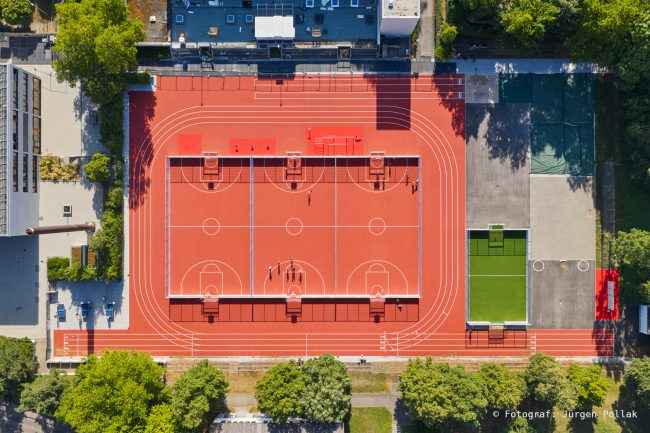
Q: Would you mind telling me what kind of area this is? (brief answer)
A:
sports ground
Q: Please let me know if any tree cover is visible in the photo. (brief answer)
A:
Yes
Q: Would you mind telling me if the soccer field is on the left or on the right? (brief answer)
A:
right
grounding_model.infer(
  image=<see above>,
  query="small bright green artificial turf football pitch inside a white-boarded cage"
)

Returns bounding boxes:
[468,230,526,321]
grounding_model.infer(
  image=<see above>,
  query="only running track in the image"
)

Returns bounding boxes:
[54,74,614,357]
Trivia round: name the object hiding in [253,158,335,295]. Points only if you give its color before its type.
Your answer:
red basketball court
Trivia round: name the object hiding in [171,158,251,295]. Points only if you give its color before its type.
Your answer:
red basketball court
